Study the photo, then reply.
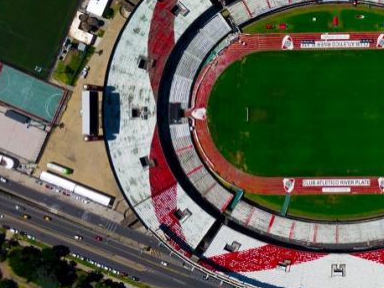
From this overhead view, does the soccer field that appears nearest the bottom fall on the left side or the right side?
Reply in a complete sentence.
The soccer field that appears nearest the bottom appears in the right half of the scene.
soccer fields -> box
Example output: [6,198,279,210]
[0,0,81,79]
[207,48,384,177]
